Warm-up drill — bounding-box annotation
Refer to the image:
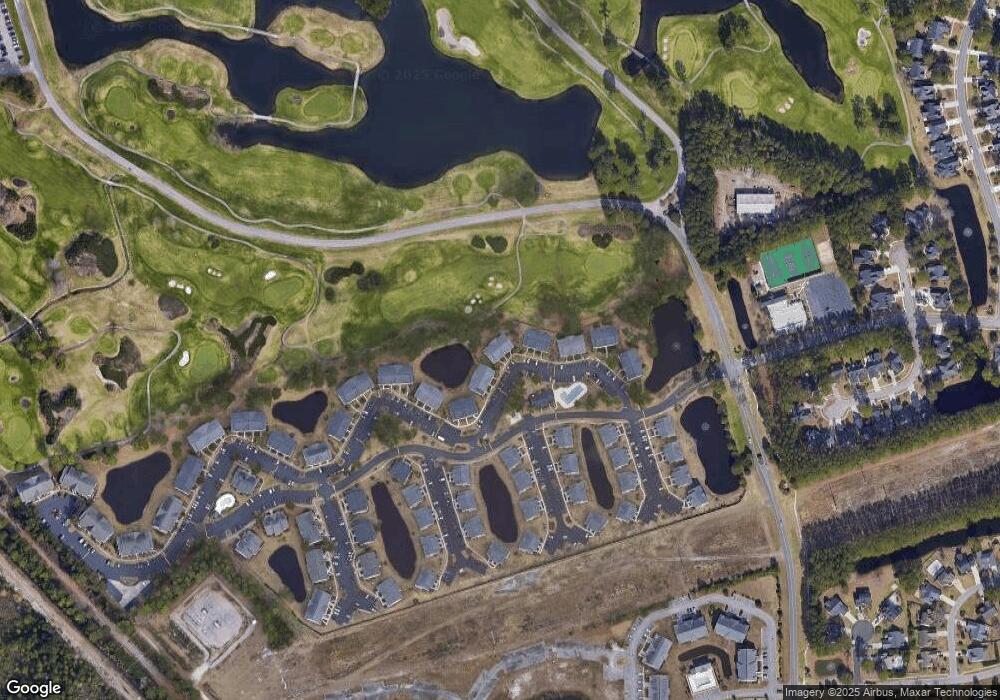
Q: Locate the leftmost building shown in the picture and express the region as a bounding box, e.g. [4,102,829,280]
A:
[16,471,55,503]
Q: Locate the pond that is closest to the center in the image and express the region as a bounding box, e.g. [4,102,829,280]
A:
[421,344,474,388]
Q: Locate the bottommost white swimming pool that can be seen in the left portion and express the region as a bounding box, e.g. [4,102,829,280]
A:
[216,493,235,513]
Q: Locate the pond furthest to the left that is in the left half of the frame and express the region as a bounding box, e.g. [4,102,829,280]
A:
[103,450,171,523]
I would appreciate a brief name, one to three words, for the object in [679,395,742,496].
pond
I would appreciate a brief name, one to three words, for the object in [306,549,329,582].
building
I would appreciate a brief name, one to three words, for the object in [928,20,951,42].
house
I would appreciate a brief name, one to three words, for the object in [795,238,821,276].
tennis court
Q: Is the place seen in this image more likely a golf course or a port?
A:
golf course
